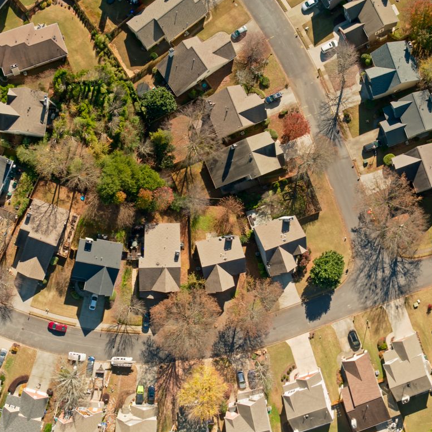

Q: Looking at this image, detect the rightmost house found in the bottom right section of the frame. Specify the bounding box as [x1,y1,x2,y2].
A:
[382,332,432,404]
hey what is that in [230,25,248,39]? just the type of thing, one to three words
vehicle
